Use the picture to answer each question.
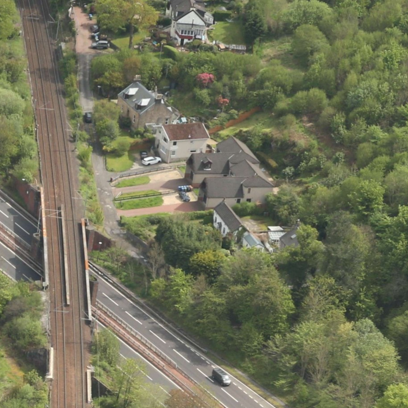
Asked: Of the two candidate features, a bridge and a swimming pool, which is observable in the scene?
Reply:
bridge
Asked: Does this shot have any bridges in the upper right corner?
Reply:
No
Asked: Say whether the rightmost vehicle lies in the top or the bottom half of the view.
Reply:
bottom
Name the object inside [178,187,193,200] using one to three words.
vehicle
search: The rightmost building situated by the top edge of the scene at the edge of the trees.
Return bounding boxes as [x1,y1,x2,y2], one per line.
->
[169,0,220,42]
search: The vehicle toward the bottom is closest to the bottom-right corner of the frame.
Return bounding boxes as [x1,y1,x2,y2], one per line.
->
[212,364,233,384]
